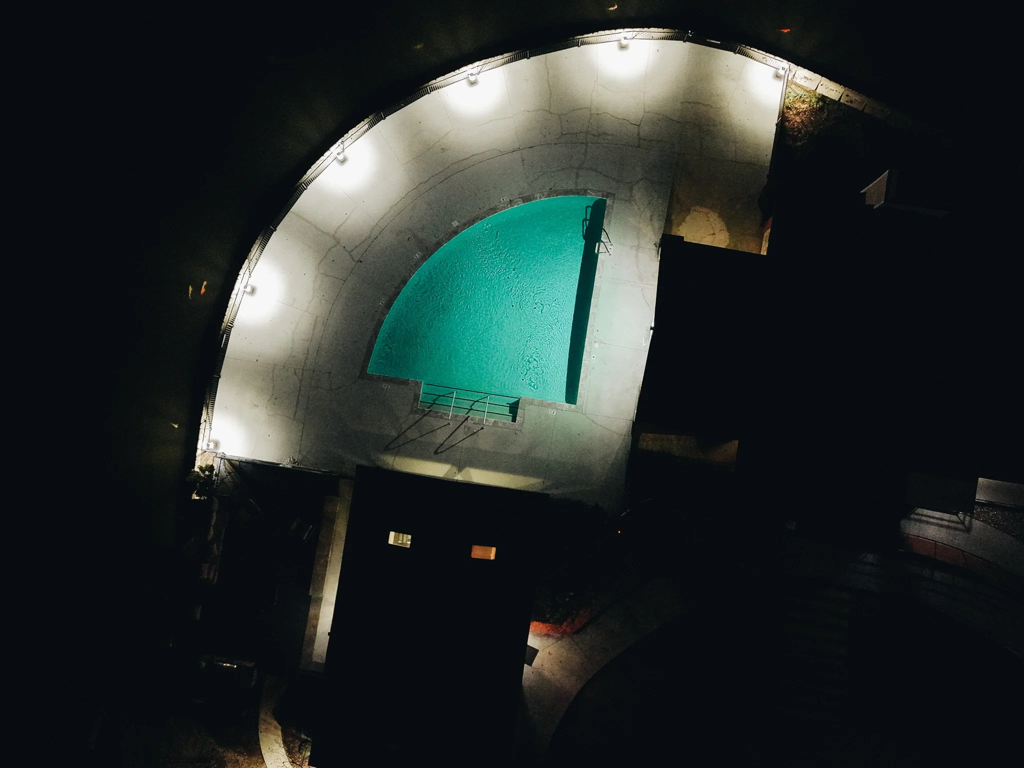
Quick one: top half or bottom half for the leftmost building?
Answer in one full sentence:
The bottom half of the photo is where the leftmost building is.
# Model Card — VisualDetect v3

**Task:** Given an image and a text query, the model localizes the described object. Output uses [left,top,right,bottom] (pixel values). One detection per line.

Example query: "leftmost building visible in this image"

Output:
[309,465,550,768]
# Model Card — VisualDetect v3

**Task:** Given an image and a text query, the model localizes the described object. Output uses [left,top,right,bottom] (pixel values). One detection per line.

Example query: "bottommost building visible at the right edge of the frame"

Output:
[633,234,1024,521]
